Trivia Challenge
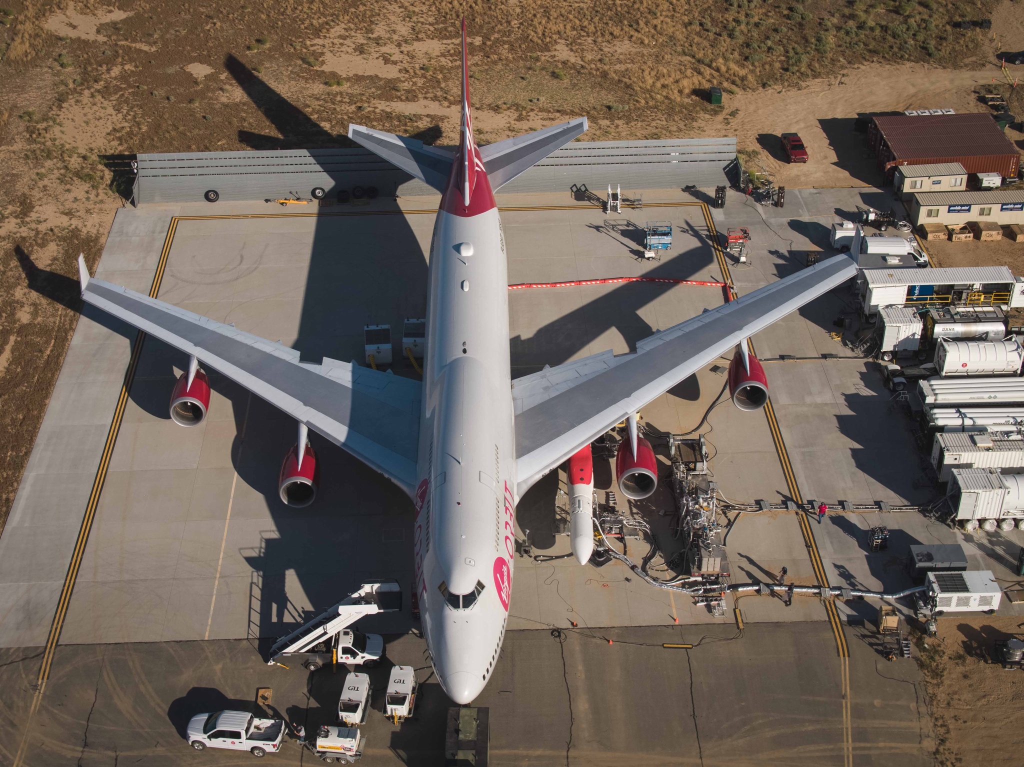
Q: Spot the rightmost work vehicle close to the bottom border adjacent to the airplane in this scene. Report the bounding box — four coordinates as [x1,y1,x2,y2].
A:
[446,707,491,767]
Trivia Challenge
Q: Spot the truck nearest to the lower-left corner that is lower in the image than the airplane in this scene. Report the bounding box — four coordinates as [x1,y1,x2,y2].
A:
[184,708,288,758]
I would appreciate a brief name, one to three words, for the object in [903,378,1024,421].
trailer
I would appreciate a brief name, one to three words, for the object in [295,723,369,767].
trailer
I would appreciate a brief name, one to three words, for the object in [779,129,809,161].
truck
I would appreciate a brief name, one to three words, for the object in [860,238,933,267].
van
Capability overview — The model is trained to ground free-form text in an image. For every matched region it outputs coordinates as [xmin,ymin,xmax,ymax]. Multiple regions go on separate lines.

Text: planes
[76,13,860,707]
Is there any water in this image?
No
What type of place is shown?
airport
